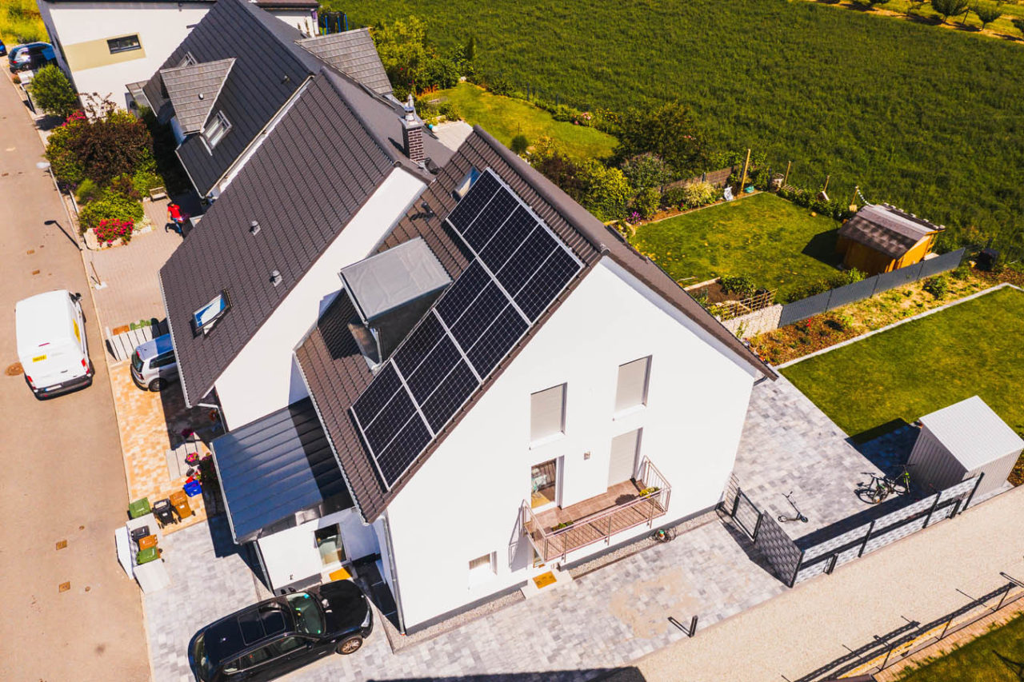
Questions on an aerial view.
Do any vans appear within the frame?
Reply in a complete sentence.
Yes, I can see a van in this picture.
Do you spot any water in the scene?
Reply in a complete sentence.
No, no water is visible.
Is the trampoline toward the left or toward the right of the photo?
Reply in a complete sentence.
The trampoline appears in the left half of the scene.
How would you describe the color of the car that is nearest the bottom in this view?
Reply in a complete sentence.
The color of the car that is nearest the bottom is black.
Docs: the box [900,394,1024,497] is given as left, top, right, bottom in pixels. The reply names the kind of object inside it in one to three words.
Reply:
shed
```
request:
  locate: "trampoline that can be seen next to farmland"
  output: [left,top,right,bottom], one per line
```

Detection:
[315,0,352,31]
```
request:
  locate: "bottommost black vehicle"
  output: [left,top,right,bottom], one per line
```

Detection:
[189,571,371,682]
